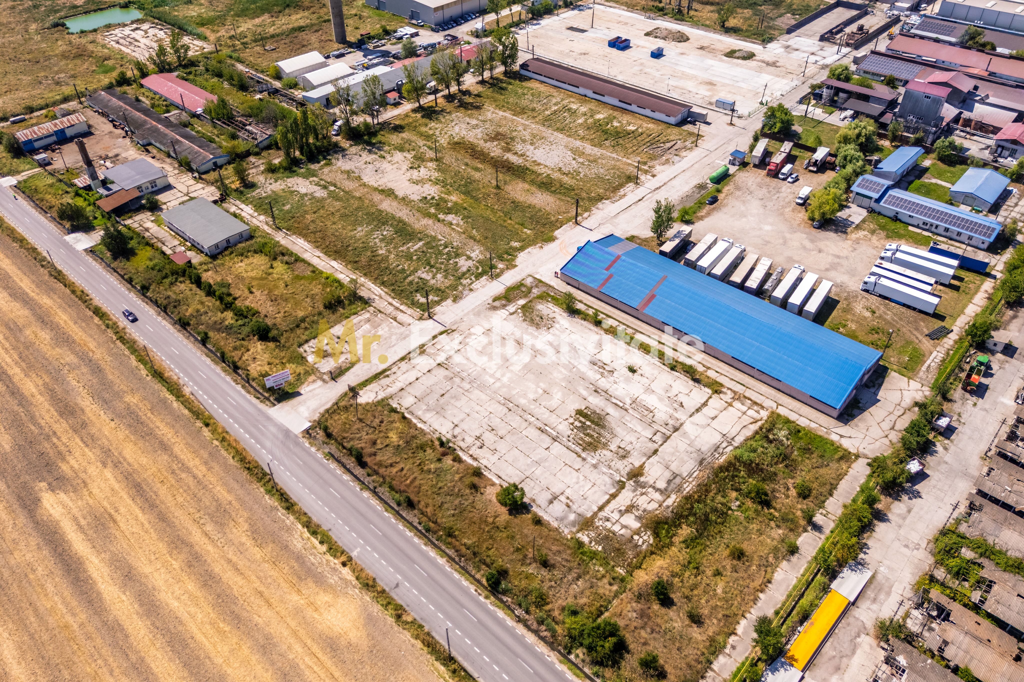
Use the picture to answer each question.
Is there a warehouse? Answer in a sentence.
Yes, the picture does show a warehouse.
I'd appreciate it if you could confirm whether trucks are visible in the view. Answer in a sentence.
Yes, a truck is visible in the scene.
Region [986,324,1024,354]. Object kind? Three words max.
shed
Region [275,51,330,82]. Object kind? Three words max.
building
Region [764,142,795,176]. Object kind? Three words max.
truck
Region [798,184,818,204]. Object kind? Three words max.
vehicle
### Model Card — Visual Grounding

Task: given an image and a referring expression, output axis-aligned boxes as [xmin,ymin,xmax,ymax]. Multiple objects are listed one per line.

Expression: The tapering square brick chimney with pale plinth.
[75,136,103,191]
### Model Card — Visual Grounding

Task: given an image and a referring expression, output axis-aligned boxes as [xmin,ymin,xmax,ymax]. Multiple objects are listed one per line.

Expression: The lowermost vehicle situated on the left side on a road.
[122,305,138,320]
